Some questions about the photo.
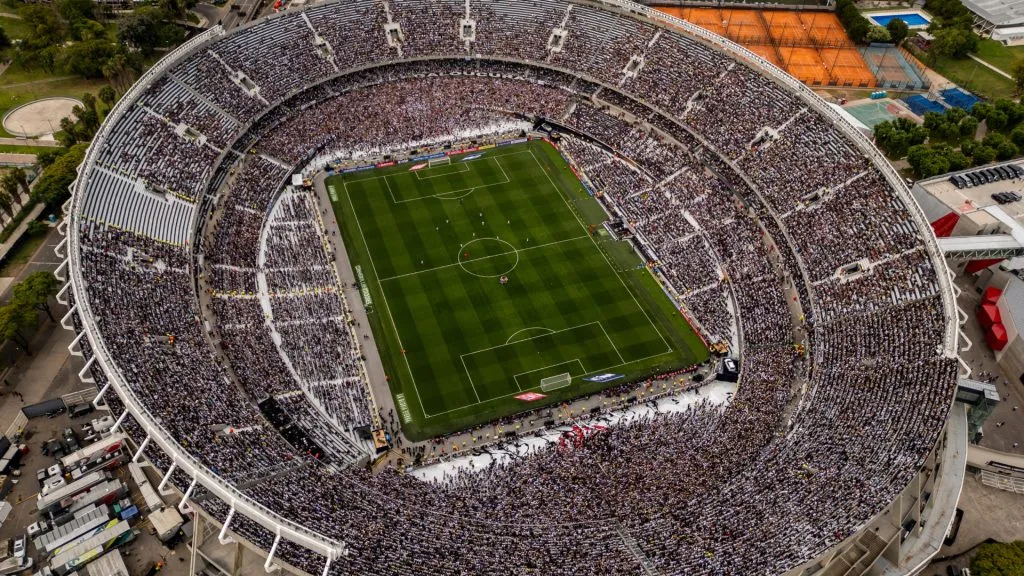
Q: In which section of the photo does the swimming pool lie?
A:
top right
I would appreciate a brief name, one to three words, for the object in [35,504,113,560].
trailer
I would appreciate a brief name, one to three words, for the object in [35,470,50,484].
vehicle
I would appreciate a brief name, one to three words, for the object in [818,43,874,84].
tennis court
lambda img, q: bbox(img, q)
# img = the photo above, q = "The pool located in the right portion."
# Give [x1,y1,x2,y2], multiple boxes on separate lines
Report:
[859,9,935,30]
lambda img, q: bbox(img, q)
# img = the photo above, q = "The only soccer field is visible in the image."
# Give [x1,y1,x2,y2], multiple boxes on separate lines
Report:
[321,137,714,441]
